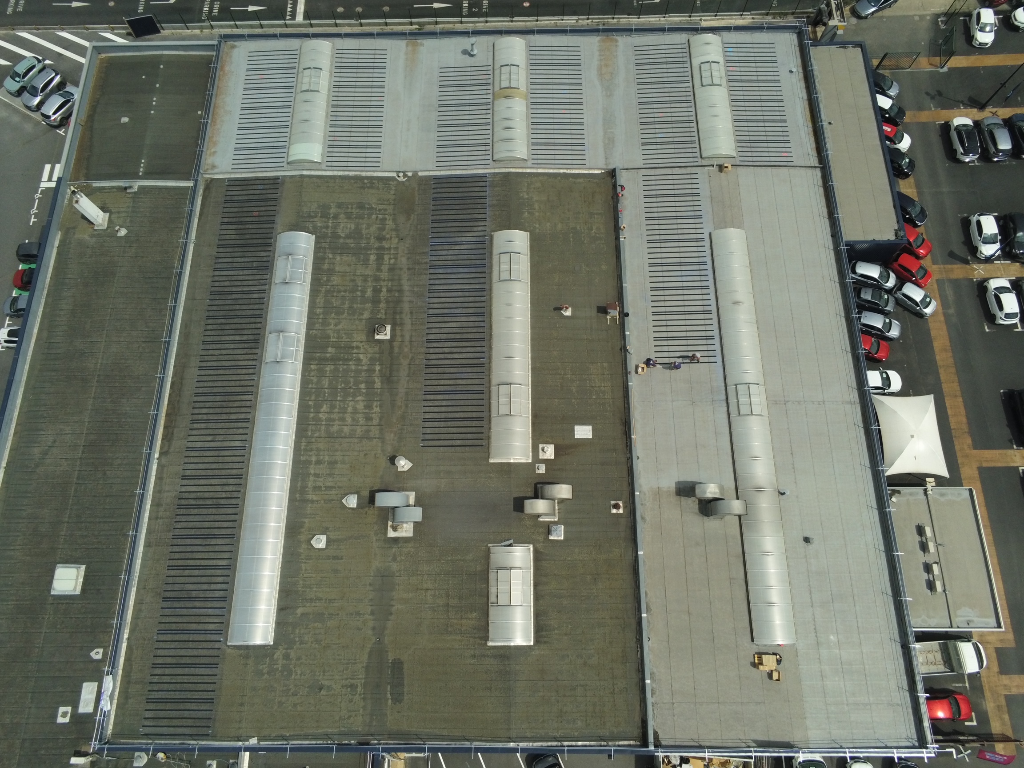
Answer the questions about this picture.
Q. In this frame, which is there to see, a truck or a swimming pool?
truck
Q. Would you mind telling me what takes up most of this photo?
buildings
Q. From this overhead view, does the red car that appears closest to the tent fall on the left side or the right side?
right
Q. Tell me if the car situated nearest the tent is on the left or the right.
right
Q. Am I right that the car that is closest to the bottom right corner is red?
Yes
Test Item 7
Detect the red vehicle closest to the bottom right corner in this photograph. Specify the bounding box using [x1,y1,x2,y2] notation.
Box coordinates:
[927,692,977,726]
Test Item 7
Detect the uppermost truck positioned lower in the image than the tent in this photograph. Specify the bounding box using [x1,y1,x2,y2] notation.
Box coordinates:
[918,637,998,674]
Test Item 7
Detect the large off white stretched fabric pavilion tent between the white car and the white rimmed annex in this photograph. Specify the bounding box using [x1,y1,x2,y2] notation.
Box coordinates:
[874,394,950,482]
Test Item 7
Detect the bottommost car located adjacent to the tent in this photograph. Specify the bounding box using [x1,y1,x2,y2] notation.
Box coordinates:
[870,367,905,395]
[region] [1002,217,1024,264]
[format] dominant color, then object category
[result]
black car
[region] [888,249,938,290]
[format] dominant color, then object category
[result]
red car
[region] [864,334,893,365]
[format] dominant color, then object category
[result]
red car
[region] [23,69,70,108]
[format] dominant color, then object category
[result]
gray car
